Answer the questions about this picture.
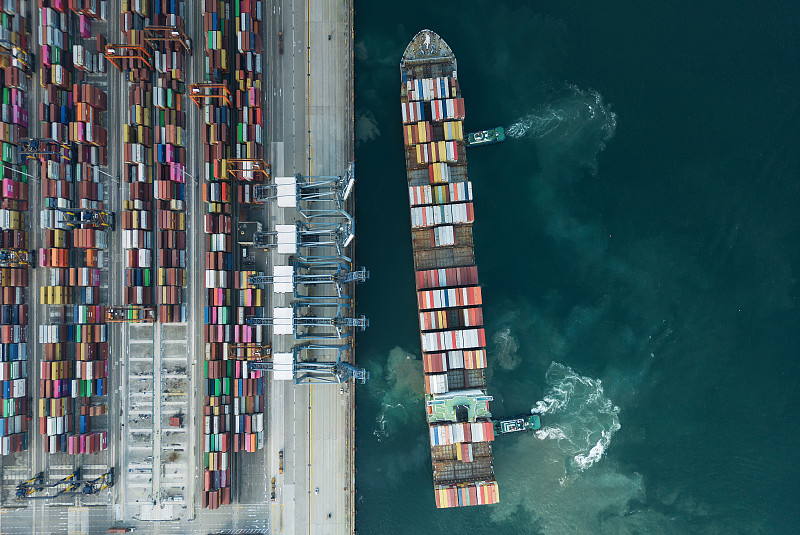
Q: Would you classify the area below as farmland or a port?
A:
port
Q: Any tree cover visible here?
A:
No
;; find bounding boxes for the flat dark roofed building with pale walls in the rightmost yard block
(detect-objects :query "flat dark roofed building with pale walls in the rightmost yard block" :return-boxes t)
[238,222,263,244]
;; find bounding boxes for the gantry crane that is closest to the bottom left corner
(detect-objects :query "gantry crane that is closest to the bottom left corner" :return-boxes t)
[16,471,78,500]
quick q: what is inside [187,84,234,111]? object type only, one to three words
container crane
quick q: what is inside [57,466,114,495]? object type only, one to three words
container crane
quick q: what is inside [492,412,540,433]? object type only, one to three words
boat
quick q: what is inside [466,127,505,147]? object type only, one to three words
boat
